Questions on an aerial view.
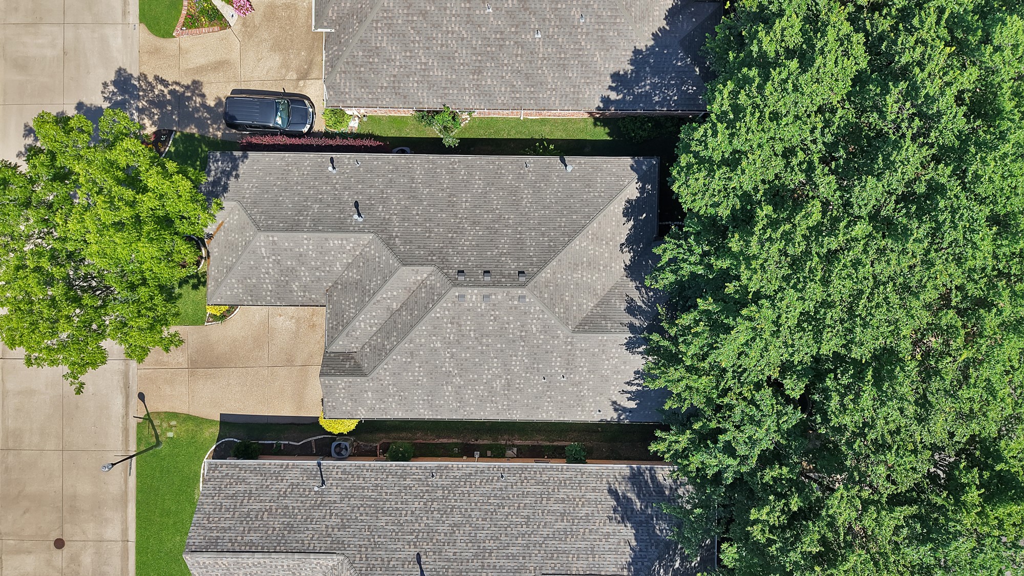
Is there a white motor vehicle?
No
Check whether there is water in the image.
No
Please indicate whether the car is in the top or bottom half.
top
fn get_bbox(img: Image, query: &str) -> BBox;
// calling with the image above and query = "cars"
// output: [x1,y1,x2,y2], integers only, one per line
[225,92,320,136]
